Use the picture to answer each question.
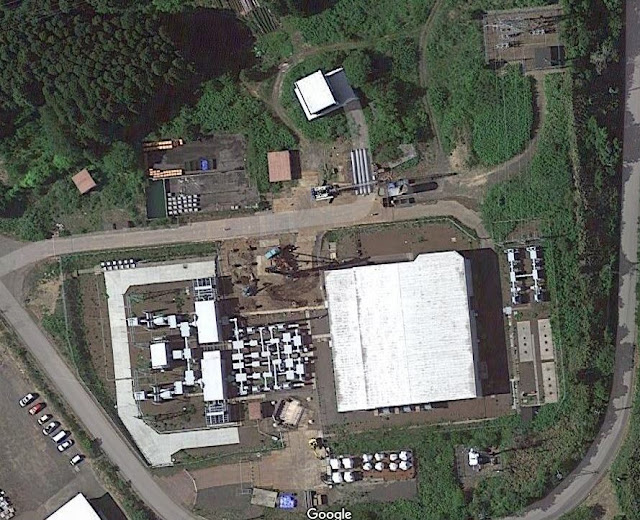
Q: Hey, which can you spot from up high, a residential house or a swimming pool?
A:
residential house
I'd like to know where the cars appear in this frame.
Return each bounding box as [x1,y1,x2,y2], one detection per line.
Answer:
[71,452,84,464]
[21,392,36,406]
[43,420,58,433]
[31,402,44,414]
[54,429,68,442]
[59,438,74,451]
[39,412,51,422]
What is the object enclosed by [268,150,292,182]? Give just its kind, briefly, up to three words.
shed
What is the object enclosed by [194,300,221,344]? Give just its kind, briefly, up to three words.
building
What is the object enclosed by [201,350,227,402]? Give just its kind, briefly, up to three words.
building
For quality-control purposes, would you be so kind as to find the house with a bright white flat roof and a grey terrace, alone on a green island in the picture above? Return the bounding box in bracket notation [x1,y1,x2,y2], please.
[294,67,358,121]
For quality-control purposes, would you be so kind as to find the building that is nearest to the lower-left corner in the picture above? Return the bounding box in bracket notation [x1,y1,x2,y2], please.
[42,492,104,520]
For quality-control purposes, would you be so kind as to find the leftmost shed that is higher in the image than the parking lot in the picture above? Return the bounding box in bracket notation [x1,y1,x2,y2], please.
[72,169,97,194]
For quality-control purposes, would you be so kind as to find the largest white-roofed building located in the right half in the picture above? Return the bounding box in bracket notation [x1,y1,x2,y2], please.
[321,250,481,413]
